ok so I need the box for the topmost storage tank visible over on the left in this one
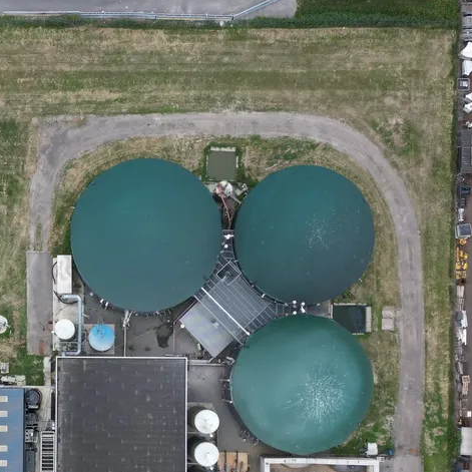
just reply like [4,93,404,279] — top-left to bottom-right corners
[71,159,227,317]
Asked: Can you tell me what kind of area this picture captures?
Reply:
industrial area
